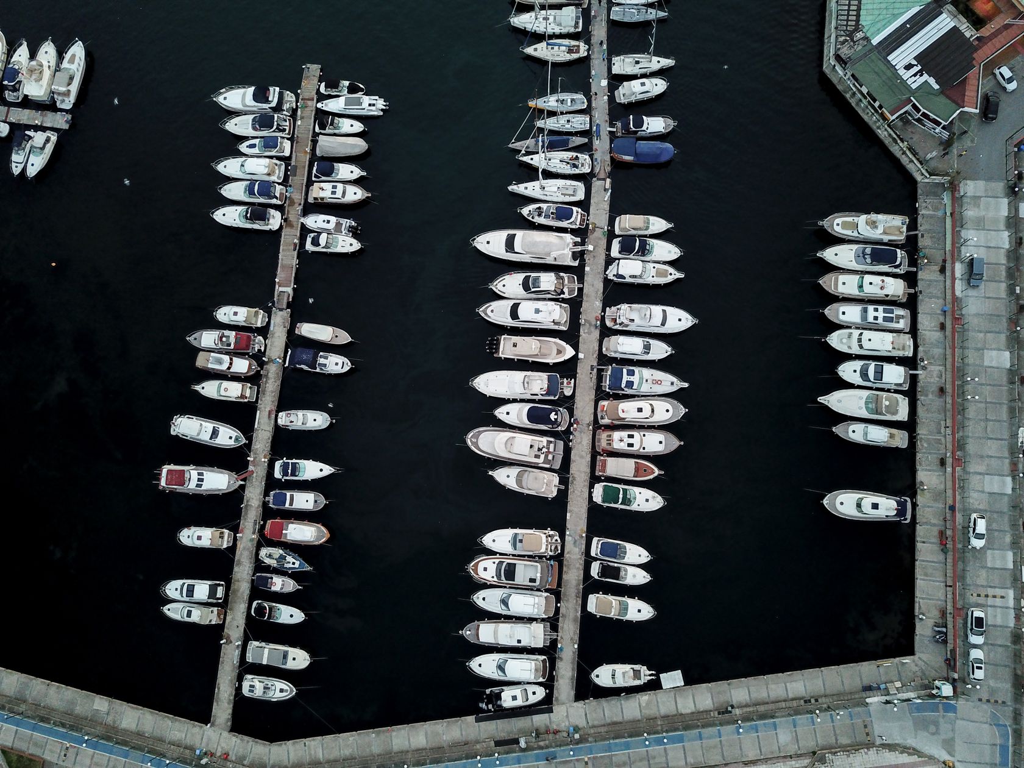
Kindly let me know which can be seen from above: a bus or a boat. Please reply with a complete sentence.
There is a boat in the scene.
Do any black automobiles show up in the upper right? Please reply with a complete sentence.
Yes, the scene does show a black automobile in the upper right.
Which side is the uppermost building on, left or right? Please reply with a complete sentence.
The uppermost building sits on the right side.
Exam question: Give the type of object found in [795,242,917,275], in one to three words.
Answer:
boat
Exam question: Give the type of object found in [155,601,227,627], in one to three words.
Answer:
boat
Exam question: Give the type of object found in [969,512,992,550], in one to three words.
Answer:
car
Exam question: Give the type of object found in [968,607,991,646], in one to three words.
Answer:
car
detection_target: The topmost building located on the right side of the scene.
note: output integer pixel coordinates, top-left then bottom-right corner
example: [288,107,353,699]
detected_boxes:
[843,0,1024,129]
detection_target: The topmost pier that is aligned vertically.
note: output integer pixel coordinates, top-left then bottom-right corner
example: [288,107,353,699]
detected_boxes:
[590,0,612,179]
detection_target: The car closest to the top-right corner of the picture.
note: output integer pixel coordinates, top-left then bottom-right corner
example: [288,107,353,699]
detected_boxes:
[993,61,1020,91]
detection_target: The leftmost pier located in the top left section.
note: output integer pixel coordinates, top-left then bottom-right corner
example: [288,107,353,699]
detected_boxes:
[0,107,72,131]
